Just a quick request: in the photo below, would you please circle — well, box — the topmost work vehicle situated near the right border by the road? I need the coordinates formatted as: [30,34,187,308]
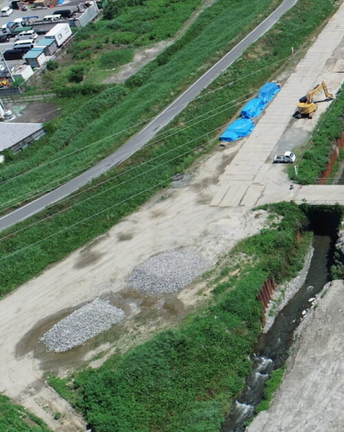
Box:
[289,71,335,119]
